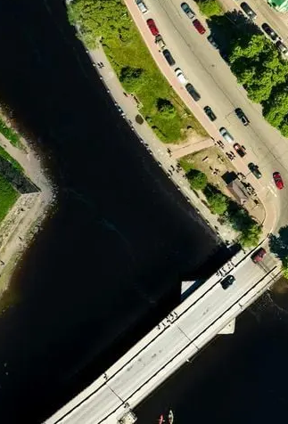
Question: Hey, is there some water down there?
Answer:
Yes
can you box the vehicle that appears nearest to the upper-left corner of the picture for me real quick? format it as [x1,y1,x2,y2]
[135,0,147,14]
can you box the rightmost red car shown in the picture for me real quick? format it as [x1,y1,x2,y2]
[270,173,285,189]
